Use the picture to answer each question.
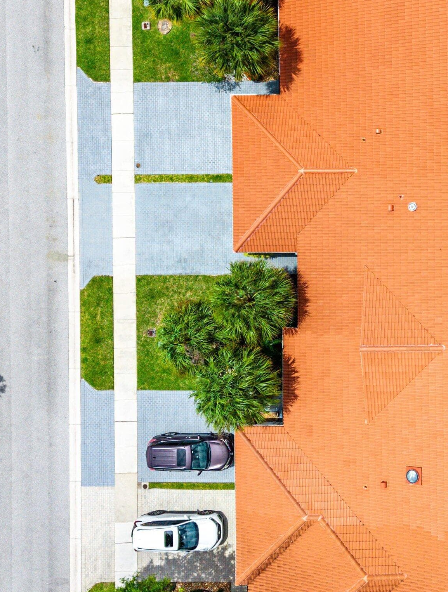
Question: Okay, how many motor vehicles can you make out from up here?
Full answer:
Looking from above, you can make out 2 motor vehicles.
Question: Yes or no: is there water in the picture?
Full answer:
No, no water is visible.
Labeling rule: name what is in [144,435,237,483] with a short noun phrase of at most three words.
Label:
car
